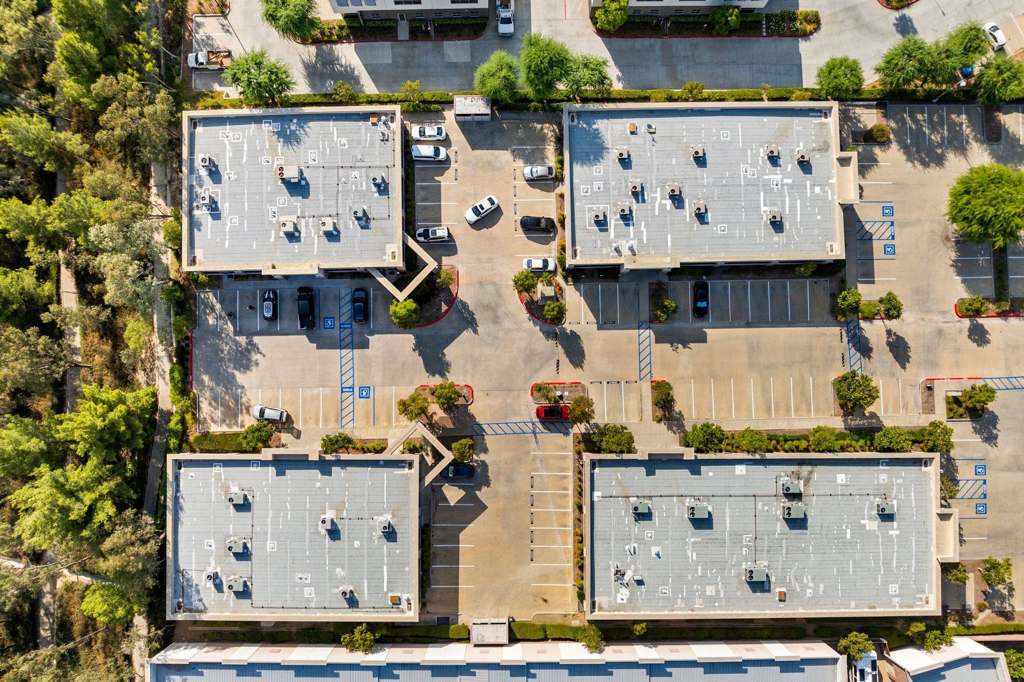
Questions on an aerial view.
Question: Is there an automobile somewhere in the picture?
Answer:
Yes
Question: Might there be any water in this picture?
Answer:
No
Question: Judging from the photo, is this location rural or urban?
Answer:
urban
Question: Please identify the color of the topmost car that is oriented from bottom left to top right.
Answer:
white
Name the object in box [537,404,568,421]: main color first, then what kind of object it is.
red car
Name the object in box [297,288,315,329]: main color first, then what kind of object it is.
black vehicle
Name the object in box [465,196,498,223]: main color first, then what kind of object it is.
white car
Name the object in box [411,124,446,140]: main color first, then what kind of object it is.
white car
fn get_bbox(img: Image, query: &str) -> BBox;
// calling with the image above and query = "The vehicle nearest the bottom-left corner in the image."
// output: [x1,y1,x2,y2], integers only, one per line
[253,404,287,422]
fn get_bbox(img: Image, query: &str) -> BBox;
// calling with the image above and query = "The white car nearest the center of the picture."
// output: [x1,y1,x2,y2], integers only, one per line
[523,257,557,272]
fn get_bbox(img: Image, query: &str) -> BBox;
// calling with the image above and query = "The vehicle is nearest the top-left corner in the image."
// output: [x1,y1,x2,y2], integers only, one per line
[187,47,232,68]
